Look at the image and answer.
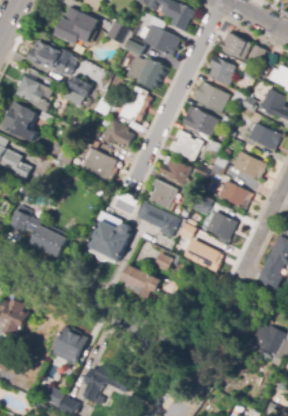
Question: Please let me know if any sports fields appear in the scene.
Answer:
No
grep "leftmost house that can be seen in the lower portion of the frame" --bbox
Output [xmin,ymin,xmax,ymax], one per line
[0,300,26,336]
